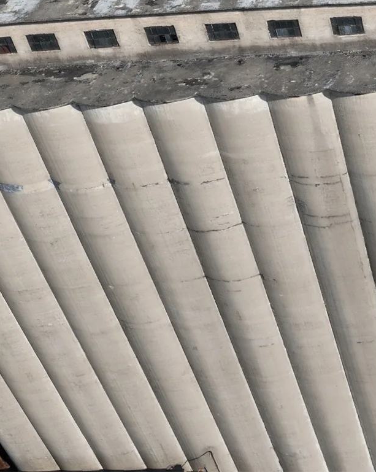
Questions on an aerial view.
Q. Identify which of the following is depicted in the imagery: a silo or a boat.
silo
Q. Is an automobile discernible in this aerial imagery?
No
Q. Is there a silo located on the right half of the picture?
Yes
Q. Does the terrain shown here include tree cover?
No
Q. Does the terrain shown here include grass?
No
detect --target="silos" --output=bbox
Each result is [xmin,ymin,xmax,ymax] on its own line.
[0,109,186,472]
[70,105,276,472]
[324,96,376,305]
[132,101,322,472]
[195,99,368,472]
[0,205,141,471]
[0,378,61,472]
[259,97,376,471]
[10,107,231,472]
